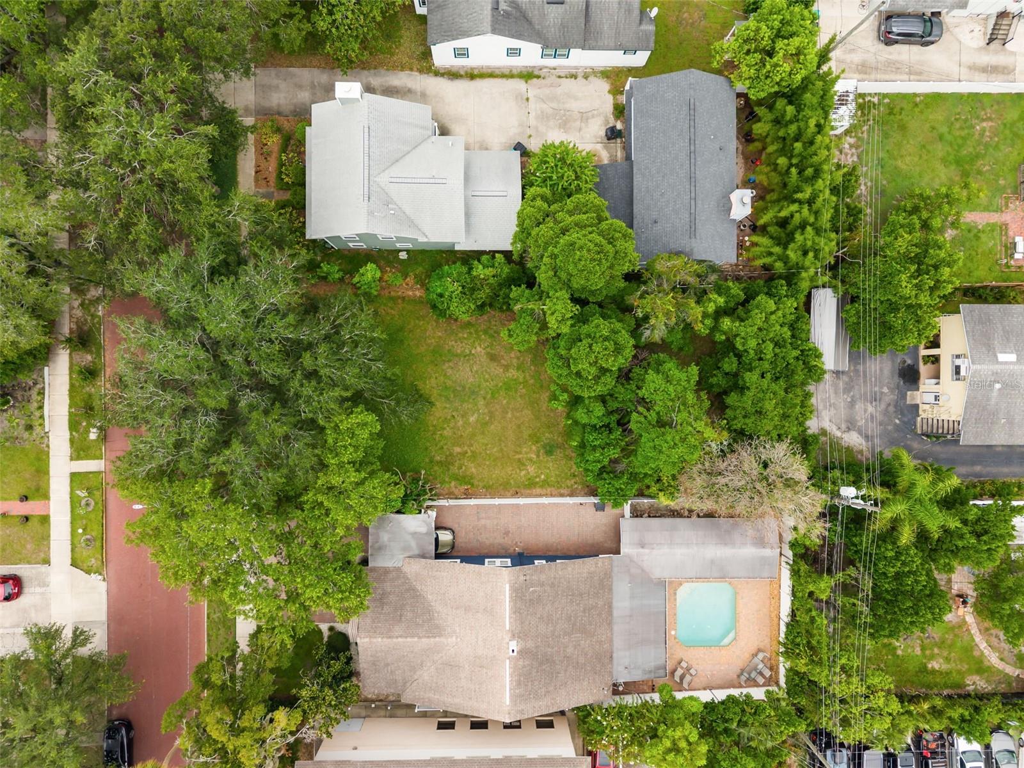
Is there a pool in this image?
Yes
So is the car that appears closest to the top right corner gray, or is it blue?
gray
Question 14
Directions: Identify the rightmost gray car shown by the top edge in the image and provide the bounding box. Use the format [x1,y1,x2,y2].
[883,11,947,45]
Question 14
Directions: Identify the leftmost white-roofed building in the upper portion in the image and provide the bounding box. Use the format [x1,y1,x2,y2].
[305,81,520,253]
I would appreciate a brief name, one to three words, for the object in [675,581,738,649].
swimming pool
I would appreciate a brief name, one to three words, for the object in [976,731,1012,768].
car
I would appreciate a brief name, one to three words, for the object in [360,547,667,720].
house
